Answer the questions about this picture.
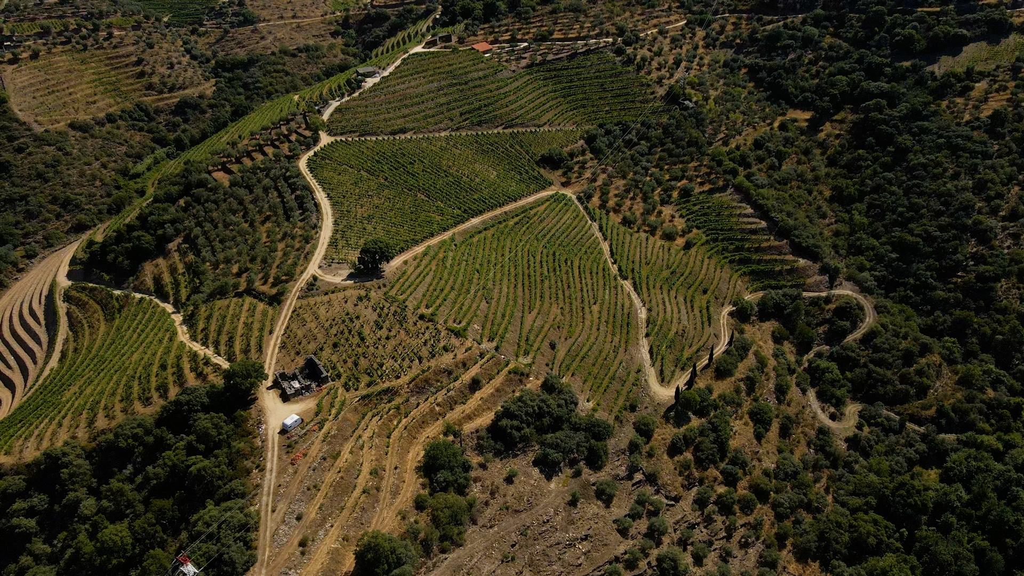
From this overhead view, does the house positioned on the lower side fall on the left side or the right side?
left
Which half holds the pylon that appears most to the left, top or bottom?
bottom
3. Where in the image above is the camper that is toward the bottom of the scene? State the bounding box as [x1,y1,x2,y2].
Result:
[280,411,304,429]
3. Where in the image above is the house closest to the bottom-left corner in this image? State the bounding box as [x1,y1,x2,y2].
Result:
[274,353,332,401]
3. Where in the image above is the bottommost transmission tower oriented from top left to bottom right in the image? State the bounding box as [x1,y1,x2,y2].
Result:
[177,550,200,576]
